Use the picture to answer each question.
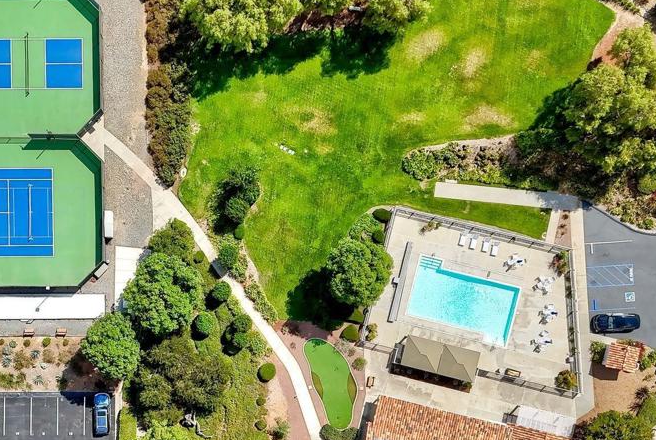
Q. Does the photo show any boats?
No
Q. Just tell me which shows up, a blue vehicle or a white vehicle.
blue vehicle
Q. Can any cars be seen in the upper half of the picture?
No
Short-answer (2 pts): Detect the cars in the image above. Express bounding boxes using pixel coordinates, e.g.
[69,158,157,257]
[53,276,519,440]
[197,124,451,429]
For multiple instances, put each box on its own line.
[93,394,112,436]
[589,313,637,333]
